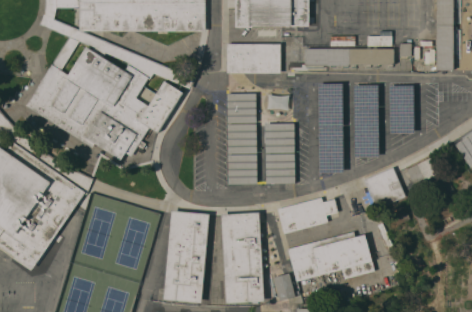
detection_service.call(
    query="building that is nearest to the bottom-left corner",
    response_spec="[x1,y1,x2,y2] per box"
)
[0,142,84,270]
